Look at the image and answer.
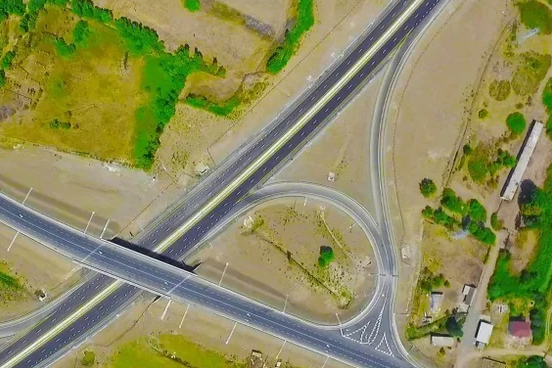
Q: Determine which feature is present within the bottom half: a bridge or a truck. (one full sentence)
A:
Visible within the bottom half is a bridge.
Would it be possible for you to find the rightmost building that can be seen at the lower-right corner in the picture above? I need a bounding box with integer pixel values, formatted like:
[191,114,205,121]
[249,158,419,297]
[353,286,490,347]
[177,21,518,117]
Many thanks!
[506,321,532,337]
